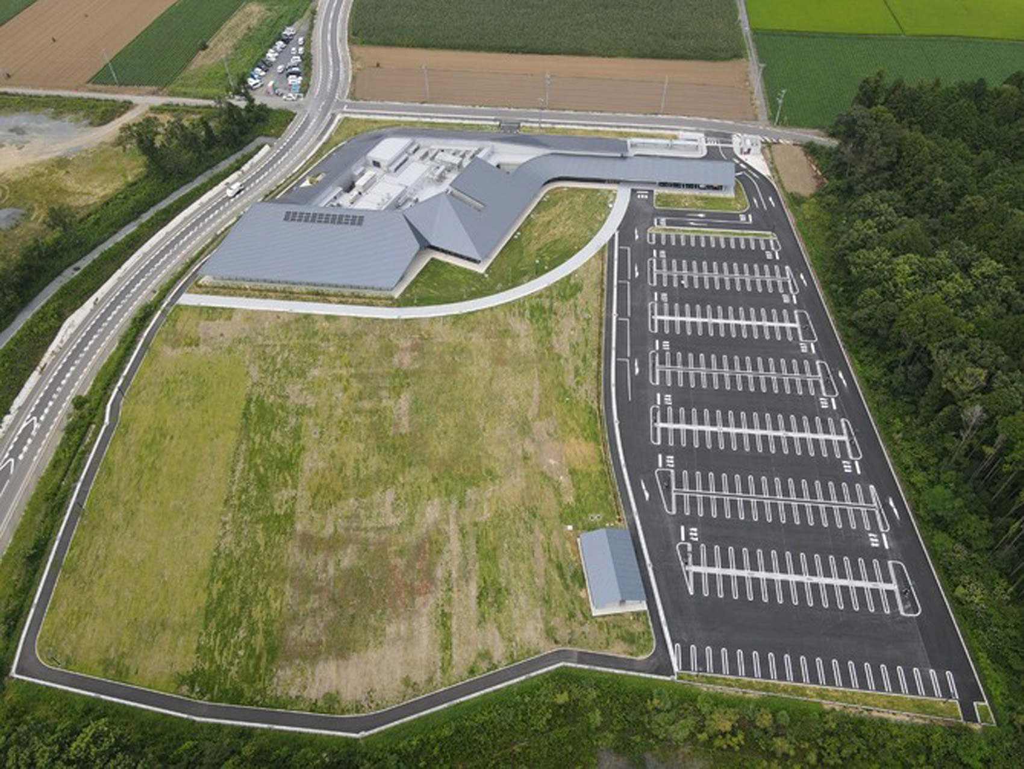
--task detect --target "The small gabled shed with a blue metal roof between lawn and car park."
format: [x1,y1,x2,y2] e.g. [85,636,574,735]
[577,528,648,616]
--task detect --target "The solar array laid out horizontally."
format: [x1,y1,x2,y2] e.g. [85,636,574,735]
[284,211,363,225]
